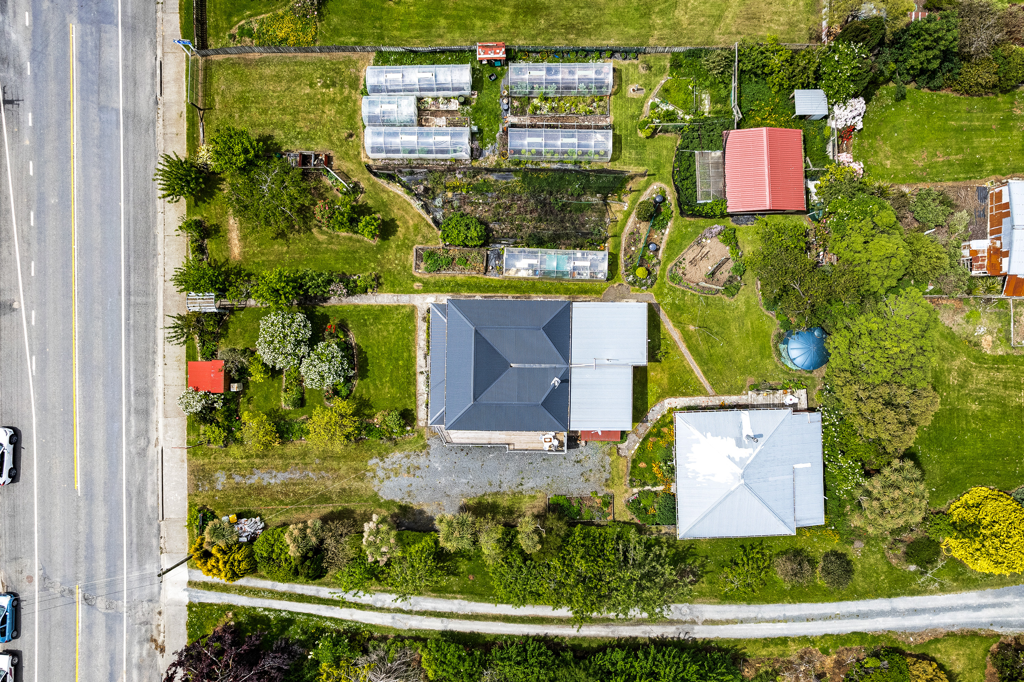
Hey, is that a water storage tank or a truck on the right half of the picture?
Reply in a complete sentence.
Looking on the right half of the picture, you will find a water storage tank.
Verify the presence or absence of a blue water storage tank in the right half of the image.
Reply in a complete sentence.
Yes, in the right half of the image there is a blue water storage tank.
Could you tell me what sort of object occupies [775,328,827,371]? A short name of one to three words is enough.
water tank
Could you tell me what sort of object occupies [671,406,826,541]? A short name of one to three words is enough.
house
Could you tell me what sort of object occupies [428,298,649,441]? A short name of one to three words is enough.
house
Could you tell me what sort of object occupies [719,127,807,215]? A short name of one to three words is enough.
shed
